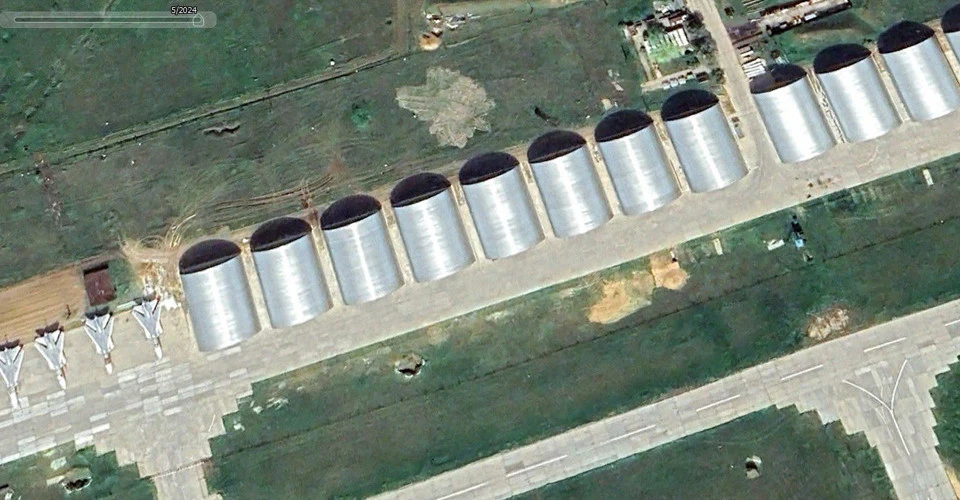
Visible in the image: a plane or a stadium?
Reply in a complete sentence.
This aerial view contains a plane.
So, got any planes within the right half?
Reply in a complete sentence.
No, within the right half there is no plane.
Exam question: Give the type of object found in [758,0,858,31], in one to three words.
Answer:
building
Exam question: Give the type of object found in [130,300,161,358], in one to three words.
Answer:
airplane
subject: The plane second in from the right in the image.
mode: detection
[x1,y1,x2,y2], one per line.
[82,315,111,375]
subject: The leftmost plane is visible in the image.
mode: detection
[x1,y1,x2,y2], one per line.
[0,349,21,410]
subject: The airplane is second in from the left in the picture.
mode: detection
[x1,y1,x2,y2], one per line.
[36,332,66,391]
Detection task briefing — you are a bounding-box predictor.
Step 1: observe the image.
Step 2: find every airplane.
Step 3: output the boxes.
[0,349,21,410]
[36,332,66,391]
[130,300,161,358]
[82,315,111,375]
